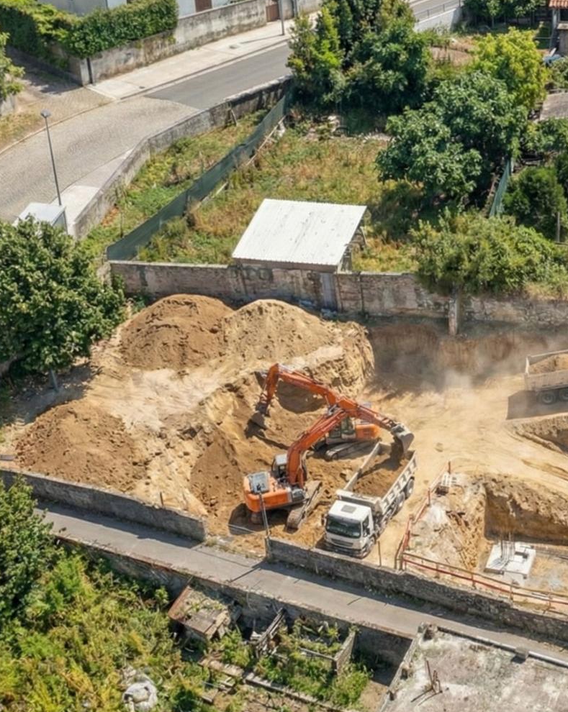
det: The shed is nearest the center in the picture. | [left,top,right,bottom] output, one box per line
[233,199,366,313]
